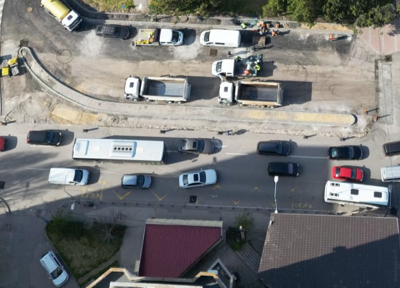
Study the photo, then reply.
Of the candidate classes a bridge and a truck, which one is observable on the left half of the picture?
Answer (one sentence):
You can see a truck on the left half of the picture.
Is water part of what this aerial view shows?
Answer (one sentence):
No, the scene doesn't show any water.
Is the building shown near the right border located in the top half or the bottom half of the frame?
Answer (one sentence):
The building shown near the right border is in the bottom half of the image.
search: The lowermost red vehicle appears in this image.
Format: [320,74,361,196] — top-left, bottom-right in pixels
[331,164,364,181]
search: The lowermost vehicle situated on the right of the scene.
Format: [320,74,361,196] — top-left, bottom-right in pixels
[323,180,394,209]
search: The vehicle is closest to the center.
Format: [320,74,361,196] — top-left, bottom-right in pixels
[179,139,215,155]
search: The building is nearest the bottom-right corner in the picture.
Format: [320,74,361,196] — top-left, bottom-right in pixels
[257,212,400,288]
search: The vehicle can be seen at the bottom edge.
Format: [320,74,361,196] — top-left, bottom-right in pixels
[37,248,70,288]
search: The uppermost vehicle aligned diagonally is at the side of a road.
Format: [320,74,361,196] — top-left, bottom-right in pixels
[37,0,88,33]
